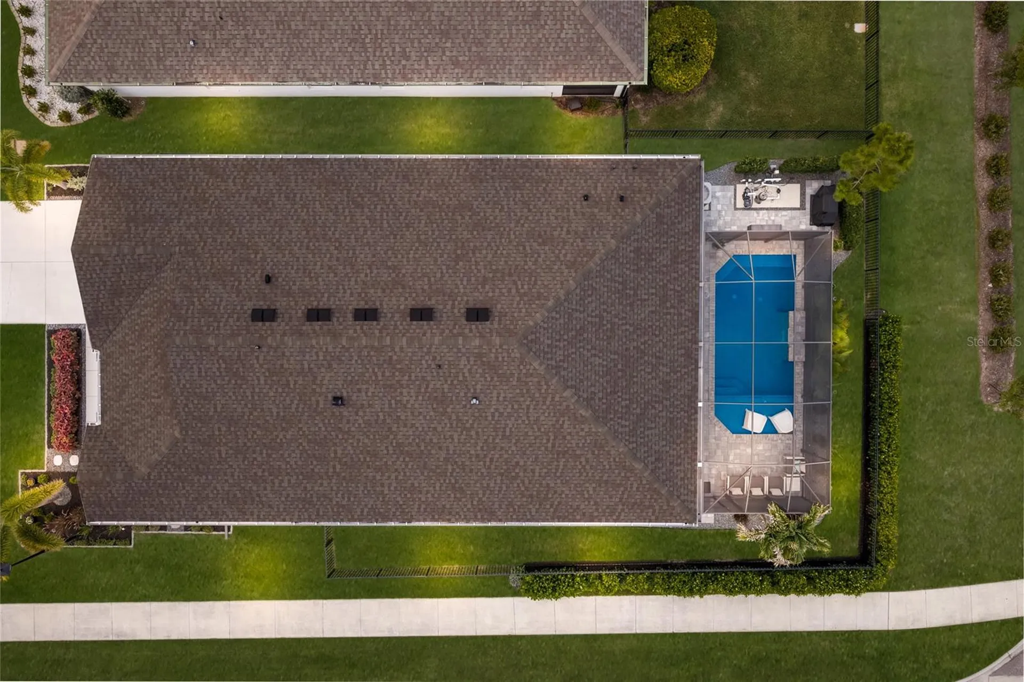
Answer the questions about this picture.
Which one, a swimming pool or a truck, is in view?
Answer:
swimming pool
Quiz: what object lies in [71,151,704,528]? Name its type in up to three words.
house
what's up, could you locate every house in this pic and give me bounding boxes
[71,151,704,528]
[44,0,651,99]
